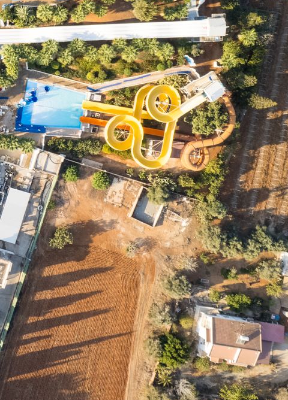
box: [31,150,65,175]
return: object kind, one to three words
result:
building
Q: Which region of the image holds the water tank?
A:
center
